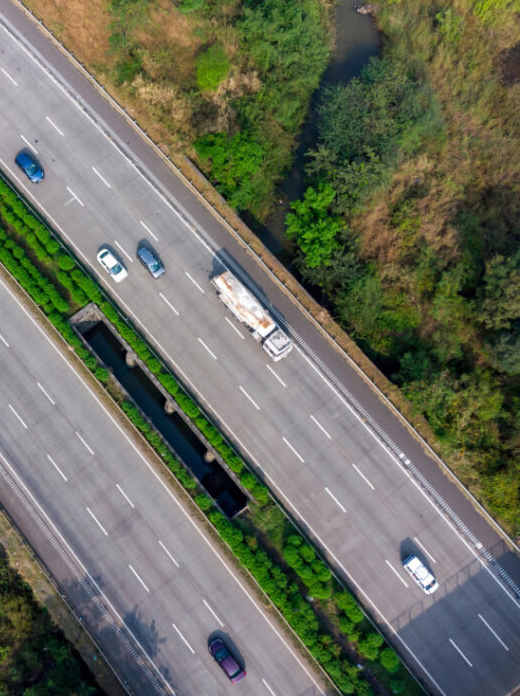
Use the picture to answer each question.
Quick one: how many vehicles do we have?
6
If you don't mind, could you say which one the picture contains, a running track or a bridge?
bridge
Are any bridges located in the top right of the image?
No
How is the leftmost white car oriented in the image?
at an angle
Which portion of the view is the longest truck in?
center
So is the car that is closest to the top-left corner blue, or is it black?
blue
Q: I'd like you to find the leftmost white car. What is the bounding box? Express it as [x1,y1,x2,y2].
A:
[95,246,131,284]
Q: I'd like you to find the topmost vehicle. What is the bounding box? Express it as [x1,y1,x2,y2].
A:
[12,151,45,185]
